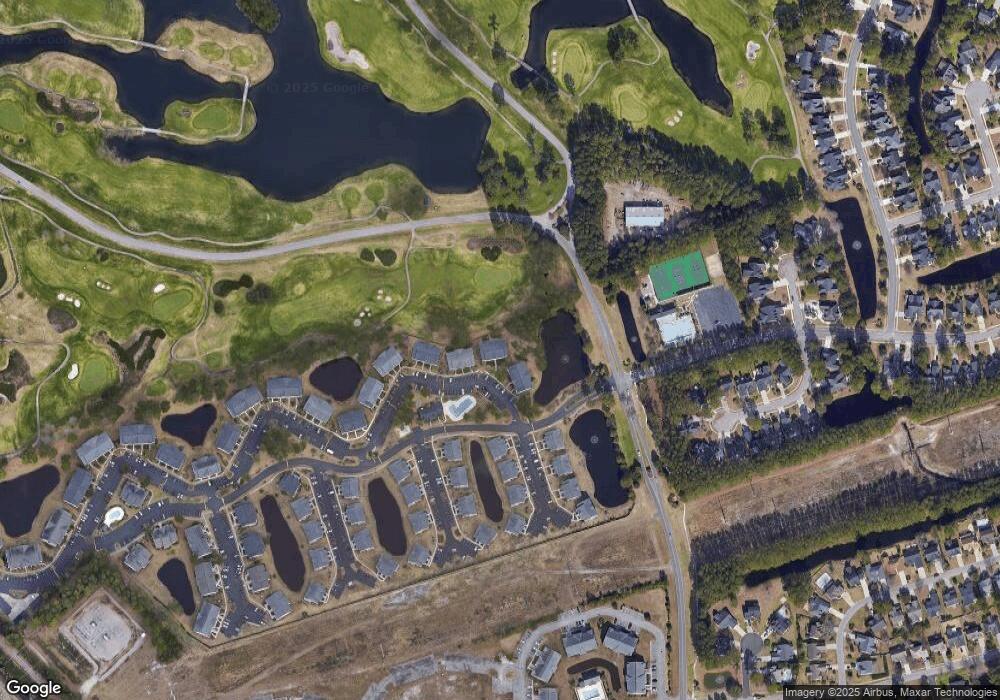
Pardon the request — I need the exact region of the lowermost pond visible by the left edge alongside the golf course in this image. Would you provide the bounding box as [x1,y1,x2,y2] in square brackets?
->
[0,465,60,537]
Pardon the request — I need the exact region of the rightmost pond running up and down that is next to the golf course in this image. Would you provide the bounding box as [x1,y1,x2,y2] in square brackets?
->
[824,198,876,319]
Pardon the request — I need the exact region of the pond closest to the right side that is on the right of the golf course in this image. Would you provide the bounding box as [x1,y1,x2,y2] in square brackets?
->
[918,247,1000,286]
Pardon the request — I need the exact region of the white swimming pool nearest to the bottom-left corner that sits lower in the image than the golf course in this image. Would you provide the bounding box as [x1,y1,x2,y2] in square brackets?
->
[104,507,124,526]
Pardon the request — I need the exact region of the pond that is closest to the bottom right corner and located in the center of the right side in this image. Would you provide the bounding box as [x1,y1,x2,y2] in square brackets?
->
[824,368,911,426]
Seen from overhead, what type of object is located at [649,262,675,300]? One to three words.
tennis court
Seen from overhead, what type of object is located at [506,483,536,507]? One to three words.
building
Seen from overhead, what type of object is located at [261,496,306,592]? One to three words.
pond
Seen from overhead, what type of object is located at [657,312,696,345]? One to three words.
swimming pool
